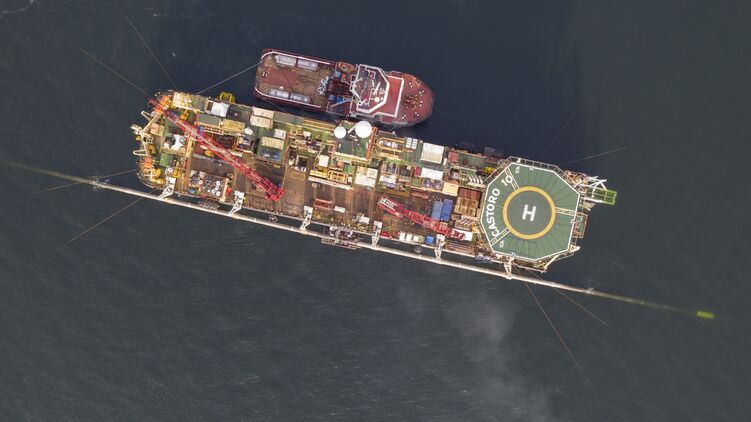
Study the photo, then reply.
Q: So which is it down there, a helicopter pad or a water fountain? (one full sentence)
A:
This aerial view contains a helicopter pad.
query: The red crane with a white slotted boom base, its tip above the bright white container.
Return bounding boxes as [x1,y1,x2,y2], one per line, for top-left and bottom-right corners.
[373,196,466,239]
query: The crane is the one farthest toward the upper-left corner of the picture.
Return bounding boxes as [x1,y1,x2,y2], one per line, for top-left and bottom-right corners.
[147,97,287,200]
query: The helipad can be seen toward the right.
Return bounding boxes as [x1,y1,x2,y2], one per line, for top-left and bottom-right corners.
[479,155,587,261]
